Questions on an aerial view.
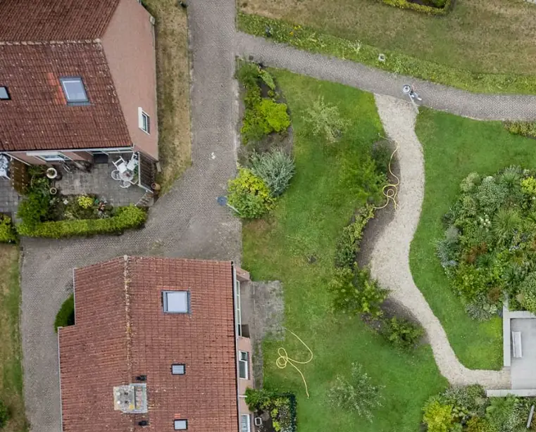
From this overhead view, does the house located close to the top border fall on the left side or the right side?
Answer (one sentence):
The house located close to the top border appears in the left half of the scene.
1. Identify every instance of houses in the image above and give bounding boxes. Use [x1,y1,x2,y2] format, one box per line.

[56,254,258,432]
[0,0,160,162]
